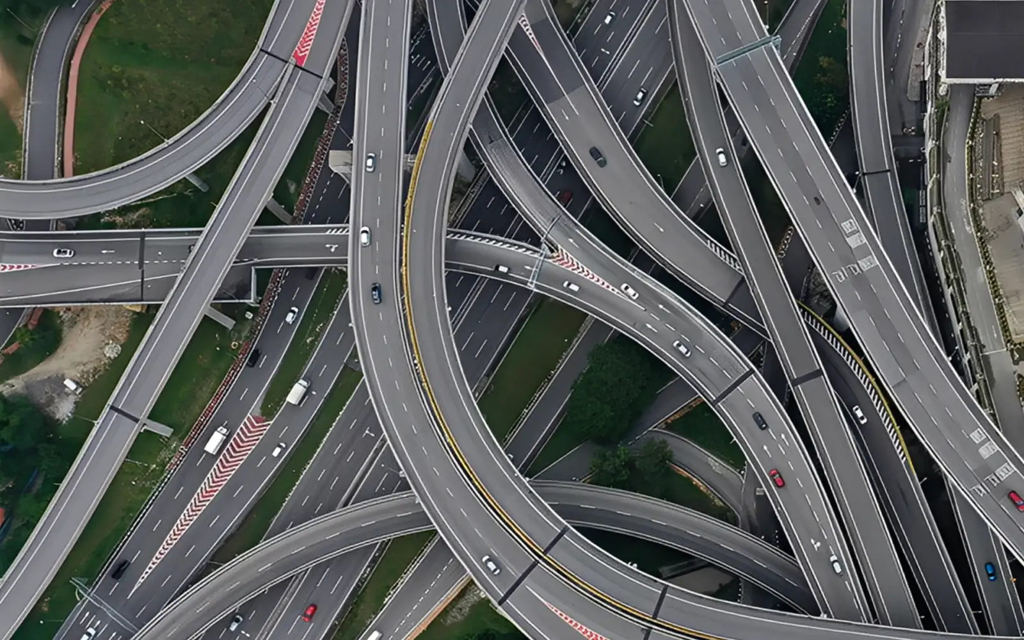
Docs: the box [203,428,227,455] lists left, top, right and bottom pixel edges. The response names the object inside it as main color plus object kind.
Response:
white truck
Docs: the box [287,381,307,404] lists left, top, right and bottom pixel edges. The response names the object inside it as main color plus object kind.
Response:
white vehicle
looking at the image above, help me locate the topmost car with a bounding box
[603,10,617,27]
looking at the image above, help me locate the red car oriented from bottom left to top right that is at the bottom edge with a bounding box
[302,603,317,622]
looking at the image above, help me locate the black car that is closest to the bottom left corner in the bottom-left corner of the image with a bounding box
[110,558,129,580]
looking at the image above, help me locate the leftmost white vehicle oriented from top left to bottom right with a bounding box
[62,378,80,394]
